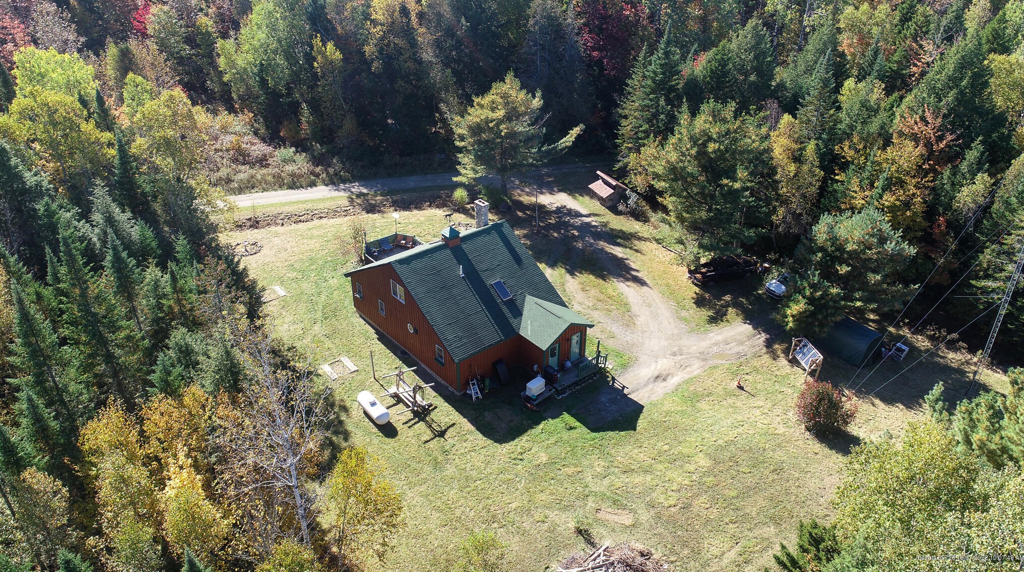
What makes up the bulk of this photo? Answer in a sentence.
The scene is dominated by trees.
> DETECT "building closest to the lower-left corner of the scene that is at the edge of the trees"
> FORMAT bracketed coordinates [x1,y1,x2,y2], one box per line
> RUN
[343,199,612,397]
